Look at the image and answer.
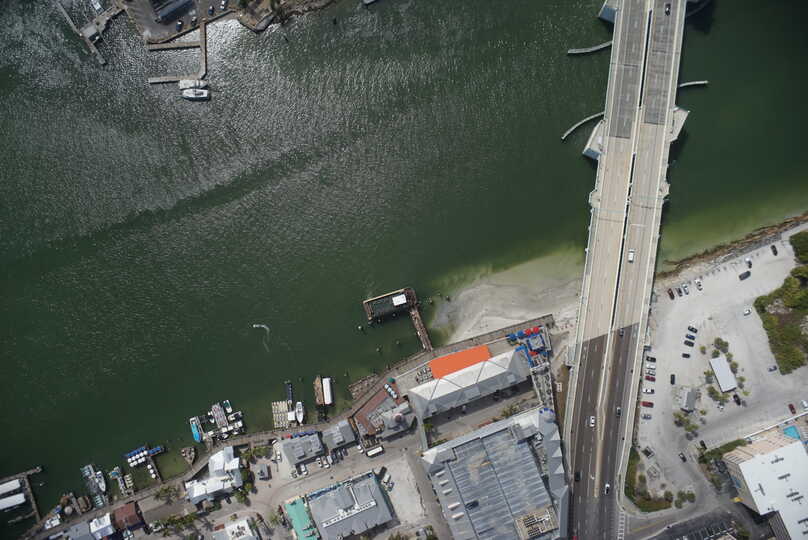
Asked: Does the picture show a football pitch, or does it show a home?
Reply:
home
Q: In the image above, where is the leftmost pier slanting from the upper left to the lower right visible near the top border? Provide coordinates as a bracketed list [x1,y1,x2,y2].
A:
[55,0,107,66]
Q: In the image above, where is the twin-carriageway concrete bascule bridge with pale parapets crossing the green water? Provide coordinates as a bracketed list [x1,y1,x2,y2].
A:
[560,0,709,338]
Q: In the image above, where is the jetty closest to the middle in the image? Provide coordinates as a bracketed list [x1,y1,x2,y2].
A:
[363,287,432,351]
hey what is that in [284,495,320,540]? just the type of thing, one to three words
building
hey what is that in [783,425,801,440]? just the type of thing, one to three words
swimming pool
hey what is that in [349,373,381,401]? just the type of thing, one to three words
pier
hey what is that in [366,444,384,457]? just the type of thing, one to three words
vehicle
